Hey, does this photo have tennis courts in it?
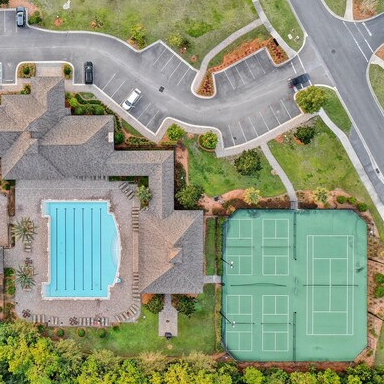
Yes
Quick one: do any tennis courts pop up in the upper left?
No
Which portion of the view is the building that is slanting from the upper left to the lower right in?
left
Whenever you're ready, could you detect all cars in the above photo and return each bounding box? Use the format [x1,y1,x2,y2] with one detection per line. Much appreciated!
[124,88,142,109]
[84,63,93,85]
[288,73,310,87]
[16,8,25,27]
